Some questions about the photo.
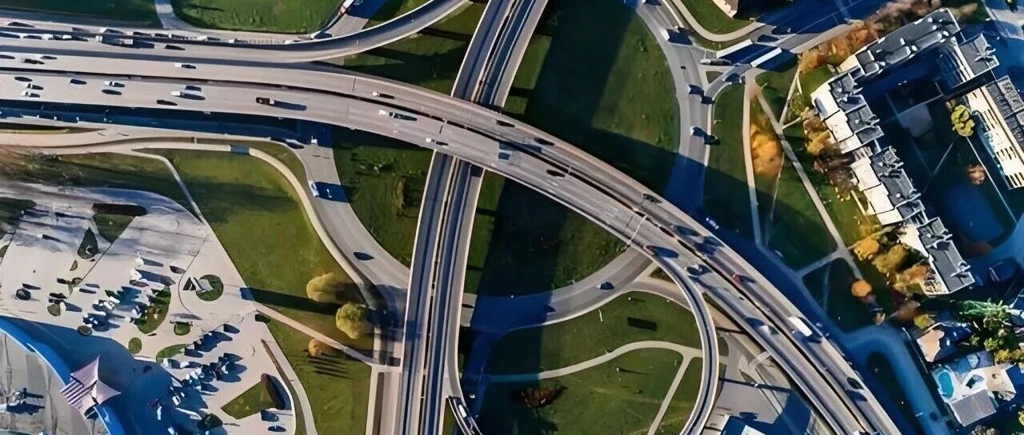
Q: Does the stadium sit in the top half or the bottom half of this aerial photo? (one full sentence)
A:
The bottom half of the photo is where the stadium is.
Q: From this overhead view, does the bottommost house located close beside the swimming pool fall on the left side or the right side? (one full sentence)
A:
The bottommost house located close beside the swimming pool appears in the right half of the scene.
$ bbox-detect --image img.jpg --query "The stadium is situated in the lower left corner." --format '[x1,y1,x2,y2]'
[0,315,125,435]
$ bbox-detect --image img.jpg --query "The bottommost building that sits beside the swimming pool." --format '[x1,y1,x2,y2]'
[946,388,998,427]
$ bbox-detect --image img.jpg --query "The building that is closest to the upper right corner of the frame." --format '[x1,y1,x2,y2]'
[939,32,1000,82]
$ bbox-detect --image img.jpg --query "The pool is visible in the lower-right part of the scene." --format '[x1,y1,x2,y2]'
[939,369,955,398]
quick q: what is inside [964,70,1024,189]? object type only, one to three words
building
